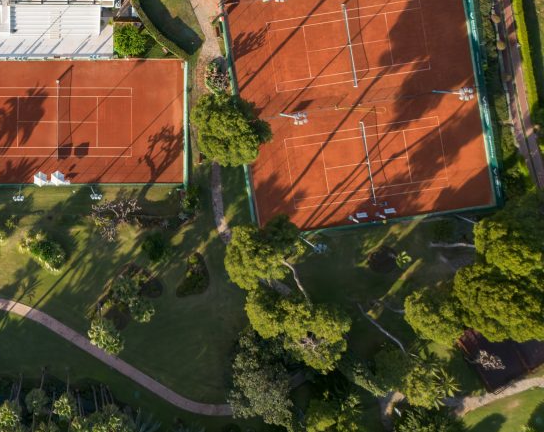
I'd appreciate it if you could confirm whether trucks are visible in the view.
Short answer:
No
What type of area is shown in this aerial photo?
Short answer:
sports ground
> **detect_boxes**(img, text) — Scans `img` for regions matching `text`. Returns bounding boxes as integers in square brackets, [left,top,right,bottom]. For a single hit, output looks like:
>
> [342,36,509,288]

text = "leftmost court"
[0,60,185,184]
